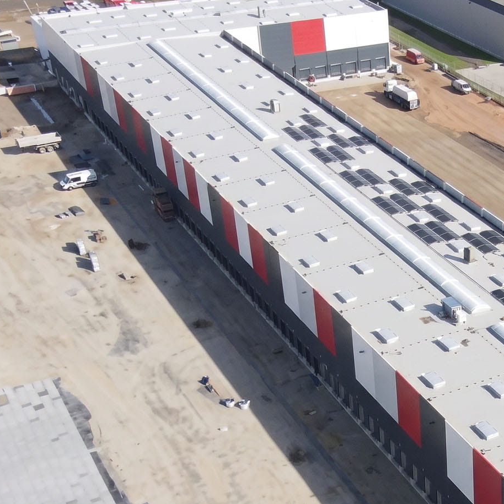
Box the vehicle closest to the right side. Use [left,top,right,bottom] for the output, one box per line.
[448,75,473,94]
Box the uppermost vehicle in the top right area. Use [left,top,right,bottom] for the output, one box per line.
[407,44,423,61]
